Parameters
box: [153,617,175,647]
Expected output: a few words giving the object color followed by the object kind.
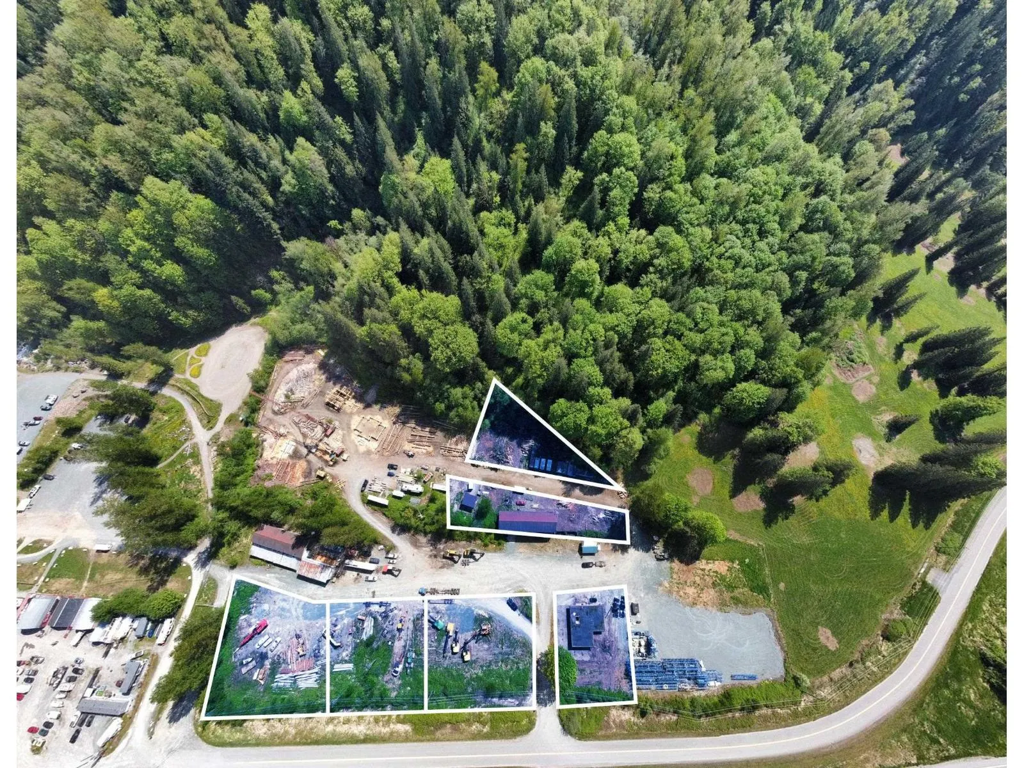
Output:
white camper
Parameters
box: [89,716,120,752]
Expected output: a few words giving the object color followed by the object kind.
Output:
white bus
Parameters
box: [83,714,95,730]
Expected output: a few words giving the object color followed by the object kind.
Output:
gray vehicle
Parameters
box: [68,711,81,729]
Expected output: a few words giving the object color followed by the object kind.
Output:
white vehicle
